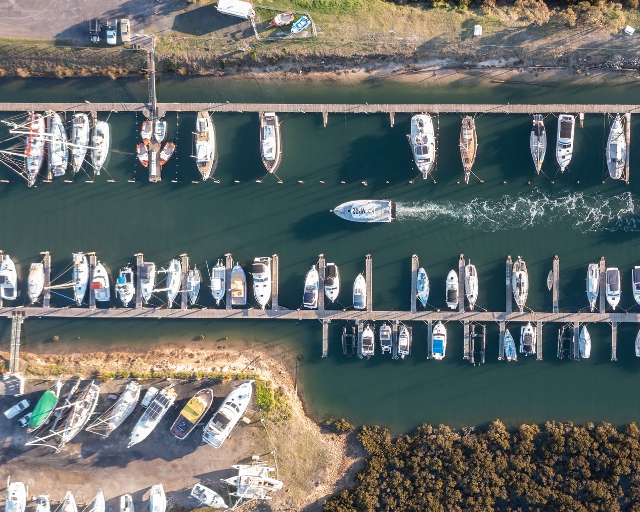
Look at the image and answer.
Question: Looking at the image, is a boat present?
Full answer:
Yes, looking at the shot, I can spot a boat.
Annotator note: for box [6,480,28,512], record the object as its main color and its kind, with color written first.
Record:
white boat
